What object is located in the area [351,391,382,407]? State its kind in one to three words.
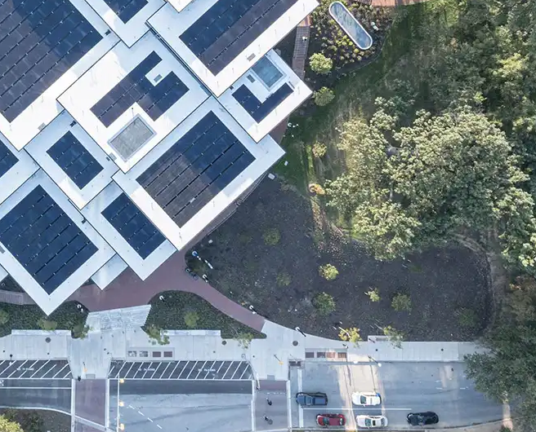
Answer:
car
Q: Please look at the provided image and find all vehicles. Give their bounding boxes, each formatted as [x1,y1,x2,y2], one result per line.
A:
[293,391,327,407]
[406,410,438,425]
[351,391,382,407]
[354,414,388,430]
[315,413,345,430]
